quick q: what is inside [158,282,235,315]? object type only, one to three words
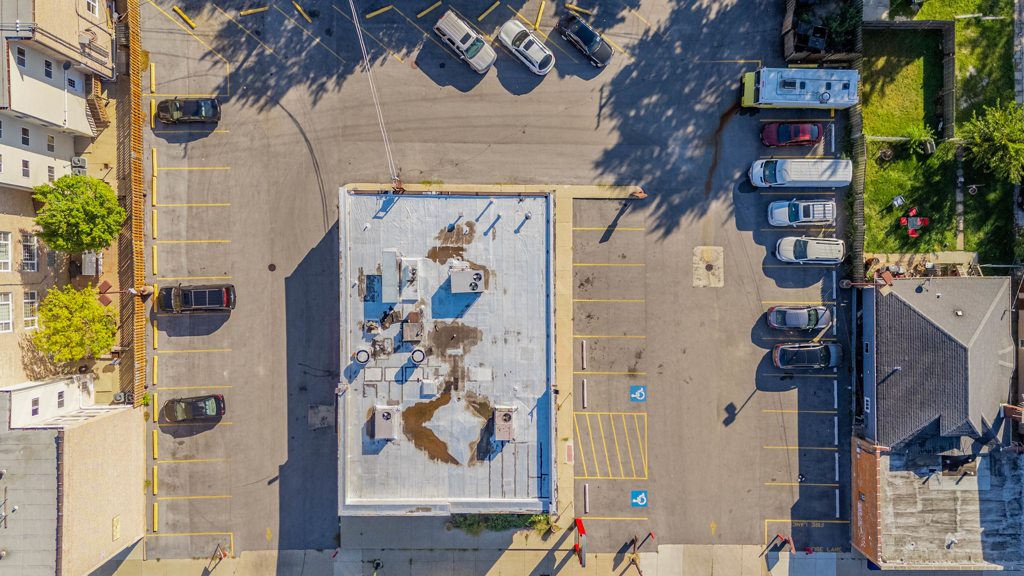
car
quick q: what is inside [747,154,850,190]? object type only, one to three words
van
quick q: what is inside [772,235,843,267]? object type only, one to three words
car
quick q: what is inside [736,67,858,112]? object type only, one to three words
truck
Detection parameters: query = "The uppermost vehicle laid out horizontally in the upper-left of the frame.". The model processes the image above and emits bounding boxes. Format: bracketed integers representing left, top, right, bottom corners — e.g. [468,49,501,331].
[156,92,222,124]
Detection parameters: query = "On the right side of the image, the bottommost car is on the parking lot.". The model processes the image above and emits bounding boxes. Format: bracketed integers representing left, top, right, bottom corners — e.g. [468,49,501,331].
[769,339,839,371]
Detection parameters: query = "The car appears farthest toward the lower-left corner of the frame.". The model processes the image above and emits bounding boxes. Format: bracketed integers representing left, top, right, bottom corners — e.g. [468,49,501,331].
[163,395,228,426]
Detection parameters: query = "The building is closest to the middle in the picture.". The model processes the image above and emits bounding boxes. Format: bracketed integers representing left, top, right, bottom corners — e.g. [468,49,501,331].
[337,190,558,518]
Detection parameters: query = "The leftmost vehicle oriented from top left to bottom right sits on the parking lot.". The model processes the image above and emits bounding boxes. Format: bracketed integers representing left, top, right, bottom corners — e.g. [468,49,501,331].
[436,12,495,71]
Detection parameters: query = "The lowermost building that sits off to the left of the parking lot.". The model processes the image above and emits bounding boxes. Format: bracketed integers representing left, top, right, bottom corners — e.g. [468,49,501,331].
[0,406,145,576]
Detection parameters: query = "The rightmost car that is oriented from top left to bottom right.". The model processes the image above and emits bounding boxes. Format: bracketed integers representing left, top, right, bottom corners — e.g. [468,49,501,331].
[556,14,615,68]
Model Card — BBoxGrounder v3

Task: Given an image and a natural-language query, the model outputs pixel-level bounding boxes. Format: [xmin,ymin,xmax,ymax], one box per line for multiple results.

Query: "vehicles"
[500,20,555,76]
[158,282,235,315]
[436,12,495,71]
[736,67,858,112]
[757,119,822,149]
[156,92,222,124]
[556,14,615,68]
[769,339,839,371]
[772,235,843,267]
[163,395,228,426]
[764,198,833,229]
[764,302,831,333]
[747,154,850,190]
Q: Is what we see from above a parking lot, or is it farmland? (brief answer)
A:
parking lot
